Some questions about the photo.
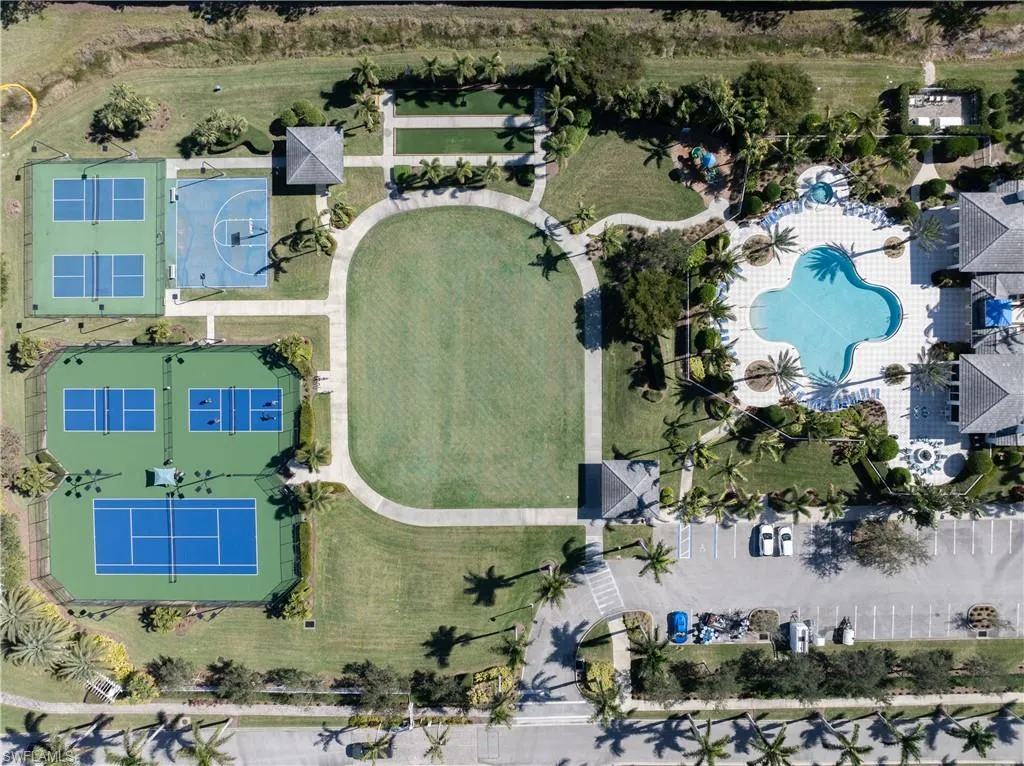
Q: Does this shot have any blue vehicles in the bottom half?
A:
Yes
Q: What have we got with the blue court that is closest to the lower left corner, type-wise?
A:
tennis court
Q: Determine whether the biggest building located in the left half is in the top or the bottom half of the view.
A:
top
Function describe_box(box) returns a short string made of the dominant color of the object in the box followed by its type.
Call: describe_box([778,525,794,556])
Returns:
white car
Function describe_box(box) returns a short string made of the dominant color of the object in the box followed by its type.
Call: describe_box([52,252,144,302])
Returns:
blue sports court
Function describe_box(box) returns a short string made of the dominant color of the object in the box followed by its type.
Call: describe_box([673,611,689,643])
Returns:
blue car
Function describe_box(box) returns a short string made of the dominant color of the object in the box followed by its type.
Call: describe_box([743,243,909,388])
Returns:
blue swimming pool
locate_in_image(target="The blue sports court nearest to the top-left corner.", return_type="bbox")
[52,175,144,226]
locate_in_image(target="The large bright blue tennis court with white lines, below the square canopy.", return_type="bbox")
[92,492,257,582]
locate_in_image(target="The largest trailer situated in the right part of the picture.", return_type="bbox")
[787,610,810,658]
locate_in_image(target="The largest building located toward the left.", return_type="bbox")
[286,126,344,186]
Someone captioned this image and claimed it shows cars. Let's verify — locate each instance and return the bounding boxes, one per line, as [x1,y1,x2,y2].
[673,611,689,643]
[351,741,385,759]
[778,525,794,556]
[758,523,774,555]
